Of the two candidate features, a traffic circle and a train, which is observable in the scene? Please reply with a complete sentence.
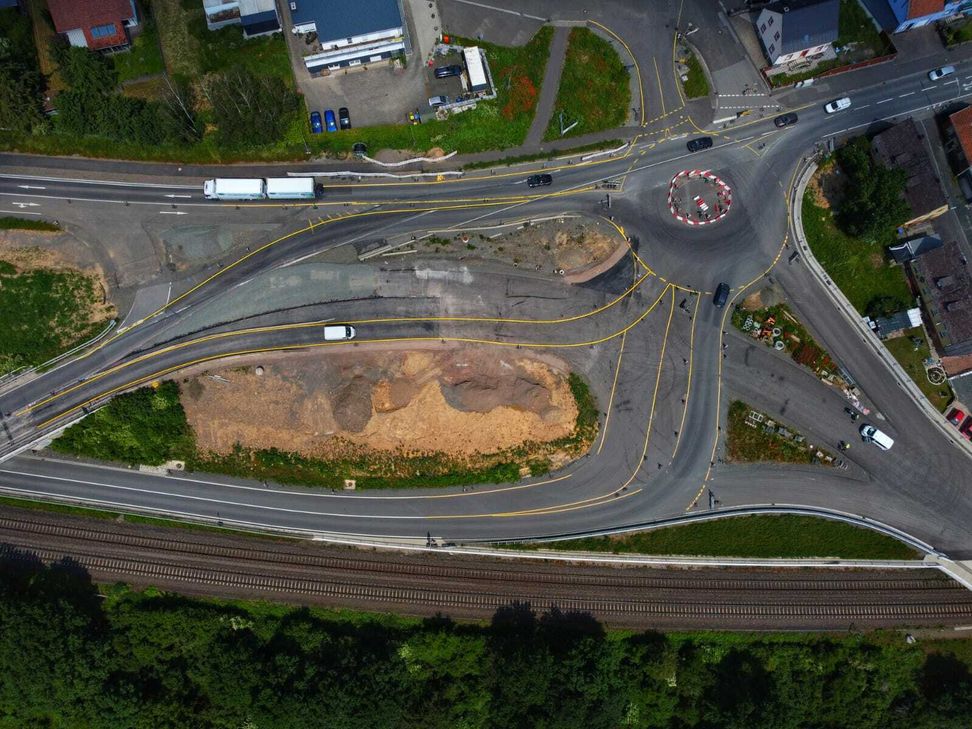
It is a traffic circle that can be seen here.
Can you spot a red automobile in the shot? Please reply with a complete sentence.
Yes, looking at the shot, I can spot a red automobile.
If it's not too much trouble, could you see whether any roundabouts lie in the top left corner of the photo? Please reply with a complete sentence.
No, no roundabout appears in the top left corner of the photo.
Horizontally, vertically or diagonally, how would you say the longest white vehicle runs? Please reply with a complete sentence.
The longest white vehicle has been laid out horizontally relative to the frame.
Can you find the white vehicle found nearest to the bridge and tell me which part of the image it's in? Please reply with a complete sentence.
The white vehicle found nearest to the bridge is located in the right region of the scene.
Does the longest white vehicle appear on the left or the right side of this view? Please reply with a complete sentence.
The longest white vehicle sits on the left side.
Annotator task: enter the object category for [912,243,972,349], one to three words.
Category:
house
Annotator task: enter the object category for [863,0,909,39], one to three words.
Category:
building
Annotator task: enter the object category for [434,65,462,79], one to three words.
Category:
car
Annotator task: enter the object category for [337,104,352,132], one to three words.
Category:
car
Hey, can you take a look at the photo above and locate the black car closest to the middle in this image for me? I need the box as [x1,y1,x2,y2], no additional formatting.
[526,174,552,187]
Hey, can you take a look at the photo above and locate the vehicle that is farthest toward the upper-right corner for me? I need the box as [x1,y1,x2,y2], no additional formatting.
[926,65,957,81]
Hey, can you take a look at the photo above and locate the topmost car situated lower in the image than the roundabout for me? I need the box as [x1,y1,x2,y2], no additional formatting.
[714,281,729,308]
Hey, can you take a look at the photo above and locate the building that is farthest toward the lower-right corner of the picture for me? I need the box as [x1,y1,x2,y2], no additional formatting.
[940,373,972,419]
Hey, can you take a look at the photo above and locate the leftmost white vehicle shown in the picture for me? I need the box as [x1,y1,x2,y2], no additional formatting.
[208,178,326,198]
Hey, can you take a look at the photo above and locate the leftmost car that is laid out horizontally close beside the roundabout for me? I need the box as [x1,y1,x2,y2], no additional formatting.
[685,137,715,152]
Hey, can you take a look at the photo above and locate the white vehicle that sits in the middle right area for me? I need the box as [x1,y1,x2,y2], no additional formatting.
[857,426,894,451]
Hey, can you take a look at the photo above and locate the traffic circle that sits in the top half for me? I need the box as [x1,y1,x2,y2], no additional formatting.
[626,147,782,268]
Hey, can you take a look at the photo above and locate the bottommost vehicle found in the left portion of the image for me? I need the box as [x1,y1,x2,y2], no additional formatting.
[324,326,358,341]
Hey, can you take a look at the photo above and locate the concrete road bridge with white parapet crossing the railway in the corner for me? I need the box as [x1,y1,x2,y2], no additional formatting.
[925,547,972,591]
